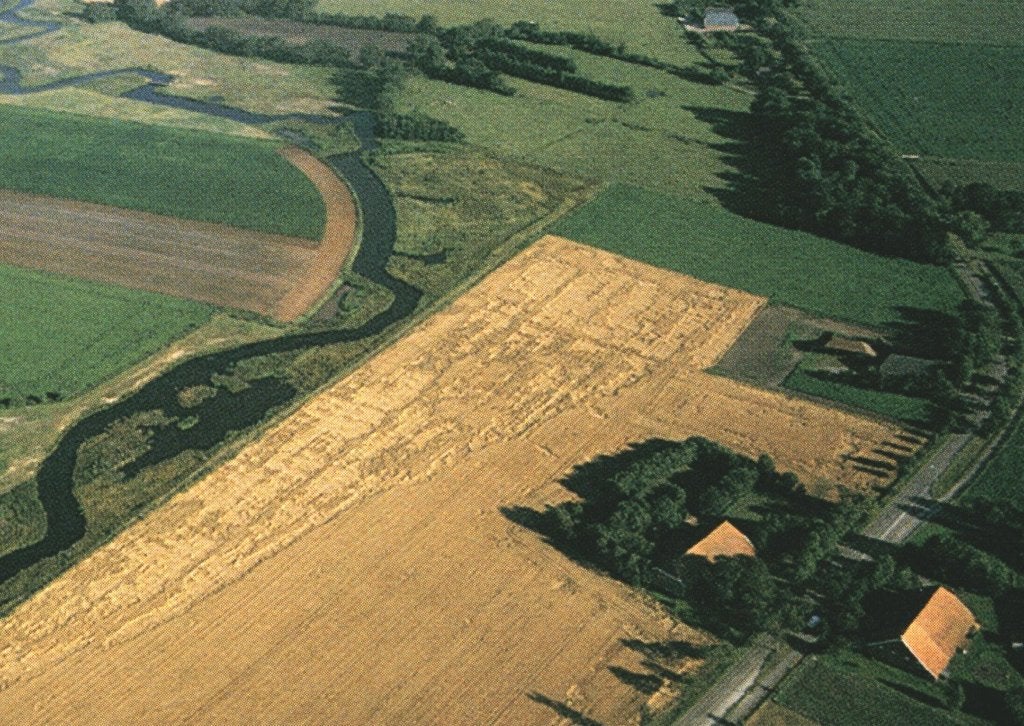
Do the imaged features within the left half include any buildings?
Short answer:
No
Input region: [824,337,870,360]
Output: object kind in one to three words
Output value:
house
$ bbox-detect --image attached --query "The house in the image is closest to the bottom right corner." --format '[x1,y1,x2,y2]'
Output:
[857,583,977,679]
